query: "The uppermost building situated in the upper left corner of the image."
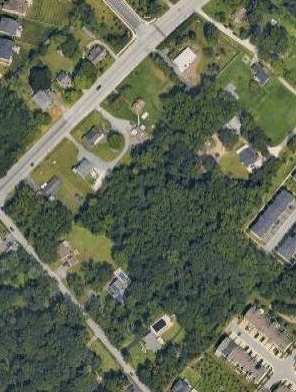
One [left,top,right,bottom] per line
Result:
[2,0,31,17]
